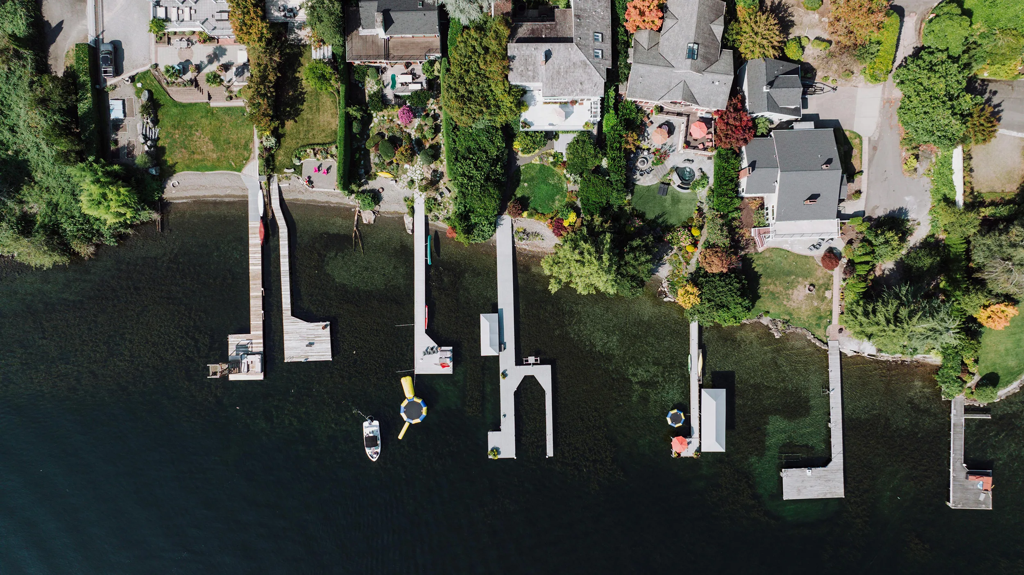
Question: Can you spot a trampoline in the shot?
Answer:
Yes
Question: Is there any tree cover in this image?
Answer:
Yes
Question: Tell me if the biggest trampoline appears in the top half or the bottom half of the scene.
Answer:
bottom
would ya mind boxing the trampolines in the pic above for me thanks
[666,409,685,427]
[400,397,428,424]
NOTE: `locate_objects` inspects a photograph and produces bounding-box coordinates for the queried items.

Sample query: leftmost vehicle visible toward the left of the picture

[99,45,118,80]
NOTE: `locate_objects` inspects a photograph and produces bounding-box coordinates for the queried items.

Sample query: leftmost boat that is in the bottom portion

[363,417,379,463]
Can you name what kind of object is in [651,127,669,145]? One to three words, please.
umbrella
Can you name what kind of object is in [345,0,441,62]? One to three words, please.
house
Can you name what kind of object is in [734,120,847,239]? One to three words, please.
house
